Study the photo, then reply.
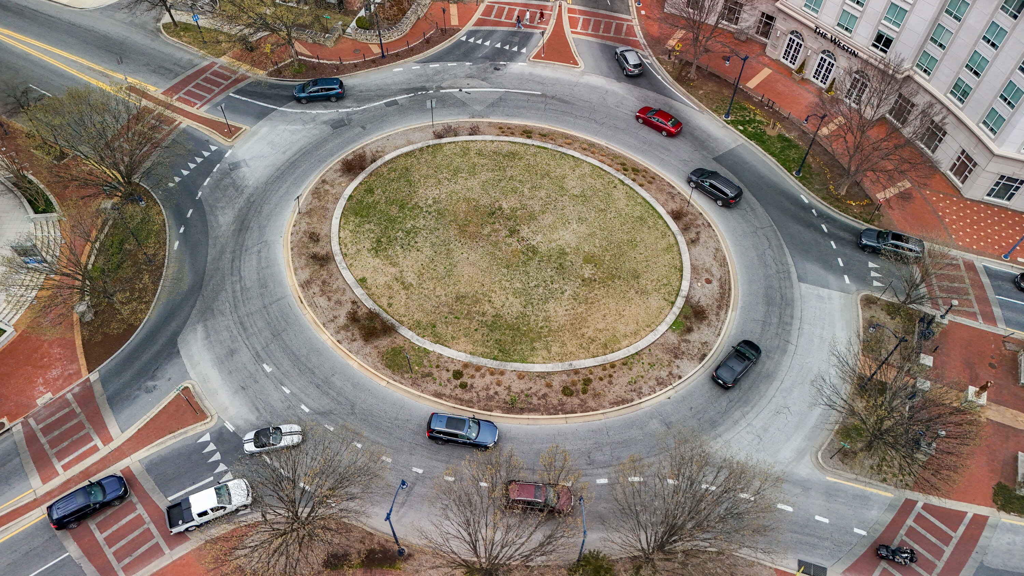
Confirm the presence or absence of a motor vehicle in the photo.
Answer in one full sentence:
Yes, there's a motor vehicle here.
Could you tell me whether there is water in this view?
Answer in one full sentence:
No, no water is visible.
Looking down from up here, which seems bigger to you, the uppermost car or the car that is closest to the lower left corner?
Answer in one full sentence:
The car that is closest to the lower left corner takes up more space than the uppermost car.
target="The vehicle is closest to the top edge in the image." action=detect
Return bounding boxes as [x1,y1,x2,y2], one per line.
[614,47,645,79]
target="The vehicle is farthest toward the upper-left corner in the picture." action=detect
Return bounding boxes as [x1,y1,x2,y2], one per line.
[294,78,344,104]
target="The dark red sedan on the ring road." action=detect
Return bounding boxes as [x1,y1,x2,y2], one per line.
[634,106,685,139]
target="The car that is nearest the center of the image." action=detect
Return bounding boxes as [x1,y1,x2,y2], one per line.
[424,411,499,452]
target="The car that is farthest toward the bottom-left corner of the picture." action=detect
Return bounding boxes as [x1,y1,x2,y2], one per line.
[40,474,129,536]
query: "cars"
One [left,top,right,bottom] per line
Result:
[244,419,304,455]
[424,411,499,452]
[614,47,645,79]
[634,106,685,139]
[686,168,745,210]
[294,78,344,104]
[501,477,573,514]
[863,229,931,265]
[40,474,129,536]
[710,338,765,392]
